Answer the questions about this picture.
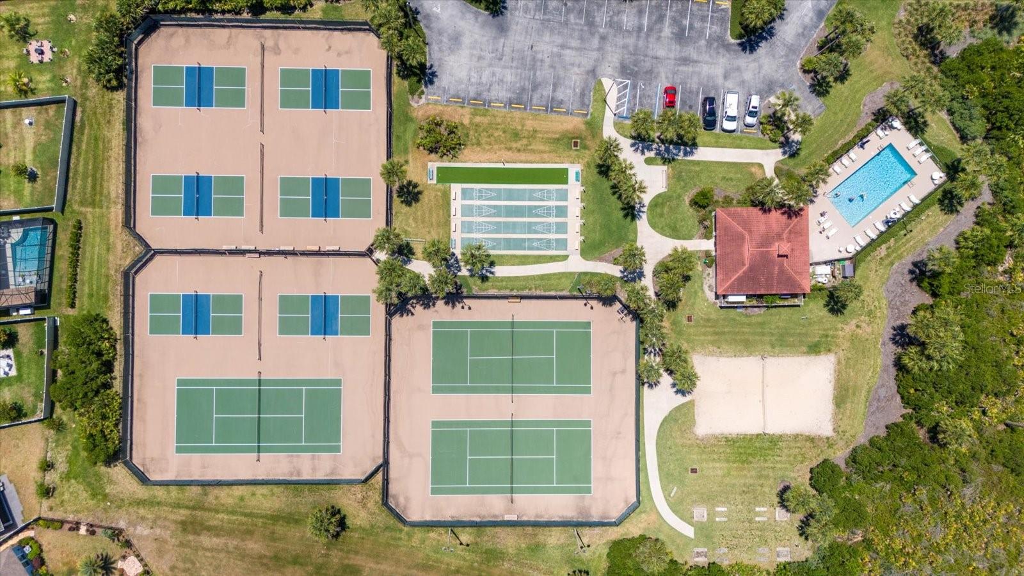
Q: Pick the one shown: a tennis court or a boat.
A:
tennis court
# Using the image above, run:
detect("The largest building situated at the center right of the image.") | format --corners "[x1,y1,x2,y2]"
[711,206,810,305]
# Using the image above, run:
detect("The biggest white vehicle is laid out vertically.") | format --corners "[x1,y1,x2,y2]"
[721,91,739,134]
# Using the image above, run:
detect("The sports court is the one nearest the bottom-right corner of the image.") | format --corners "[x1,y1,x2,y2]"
[693,354,835,438]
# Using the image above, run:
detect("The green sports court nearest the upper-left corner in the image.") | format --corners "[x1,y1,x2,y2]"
[152,62,246,113]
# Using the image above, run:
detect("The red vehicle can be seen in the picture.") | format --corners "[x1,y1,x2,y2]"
[662,85,677,112]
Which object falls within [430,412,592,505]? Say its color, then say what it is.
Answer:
green tennis court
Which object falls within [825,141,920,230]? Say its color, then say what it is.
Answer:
blue swimming pool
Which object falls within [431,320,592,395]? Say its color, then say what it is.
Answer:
green tennis court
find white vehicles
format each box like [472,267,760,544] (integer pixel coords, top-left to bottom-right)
[721,91,739,134]
[743,95,760,127]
